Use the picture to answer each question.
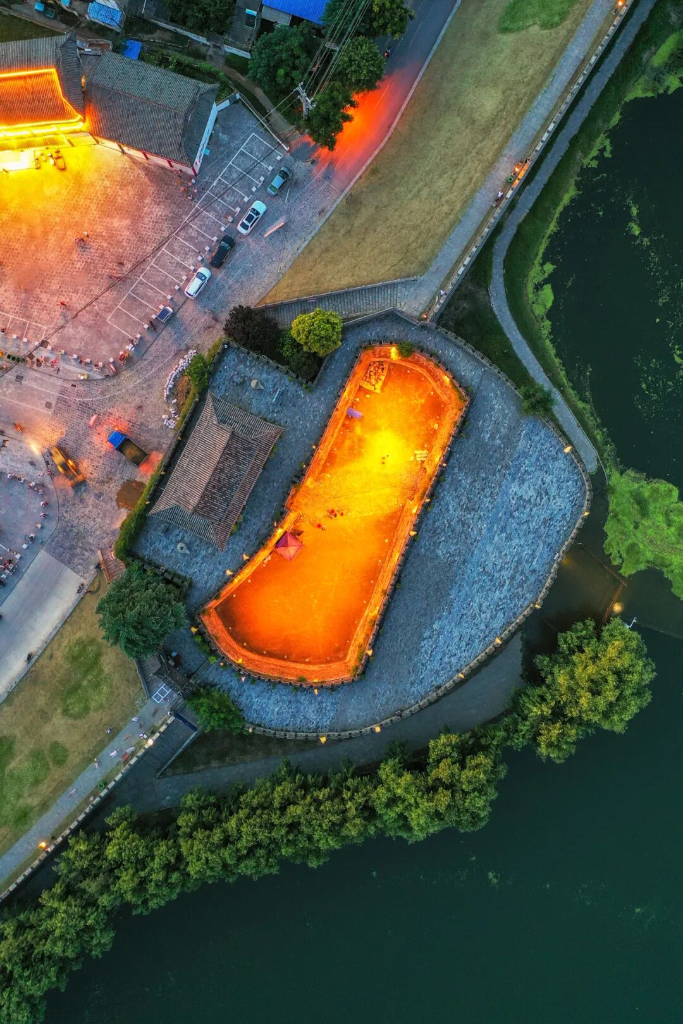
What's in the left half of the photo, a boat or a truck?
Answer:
truck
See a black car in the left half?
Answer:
Yes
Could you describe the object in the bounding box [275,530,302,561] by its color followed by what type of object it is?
red tent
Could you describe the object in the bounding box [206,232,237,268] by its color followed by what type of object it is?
black car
